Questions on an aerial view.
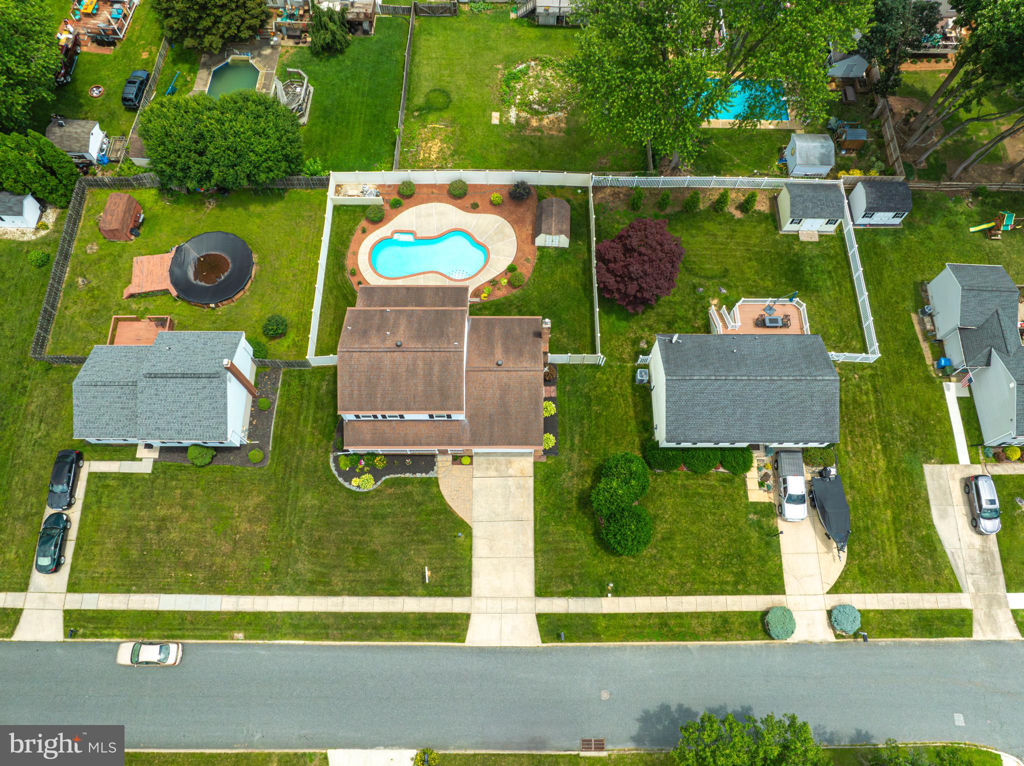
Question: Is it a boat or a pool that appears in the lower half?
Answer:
boat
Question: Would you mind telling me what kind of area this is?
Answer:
residential area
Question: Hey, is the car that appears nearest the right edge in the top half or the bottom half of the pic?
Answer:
bottom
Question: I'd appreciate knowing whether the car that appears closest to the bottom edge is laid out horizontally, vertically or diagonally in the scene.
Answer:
horizontally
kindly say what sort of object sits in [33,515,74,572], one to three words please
car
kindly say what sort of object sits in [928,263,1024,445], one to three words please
house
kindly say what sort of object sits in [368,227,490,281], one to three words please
swimming pool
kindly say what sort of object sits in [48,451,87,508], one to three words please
car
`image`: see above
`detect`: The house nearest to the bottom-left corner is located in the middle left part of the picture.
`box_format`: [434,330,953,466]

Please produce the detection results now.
[72,331,256,453]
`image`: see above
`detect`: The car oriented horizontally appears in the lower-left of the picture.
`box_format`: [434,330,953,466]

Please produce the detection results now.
[118,638,187,671]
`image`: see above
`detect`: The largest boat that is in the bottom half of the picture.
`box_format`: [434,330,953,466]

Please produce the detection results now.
[817,468,857,544]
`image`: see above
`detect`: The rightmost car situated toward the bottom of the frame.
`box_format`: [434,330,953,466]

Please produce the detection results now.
[963,476,1007,532]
